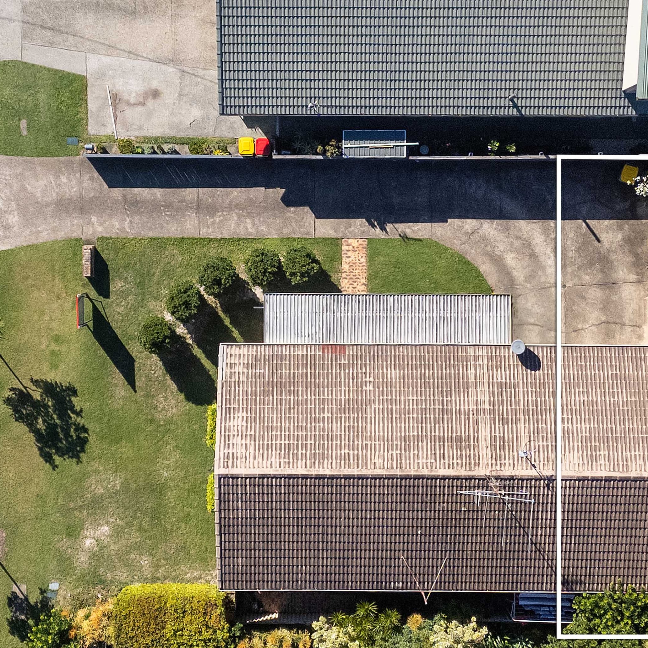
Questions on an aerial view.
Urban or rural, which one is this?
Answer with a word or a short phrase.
urban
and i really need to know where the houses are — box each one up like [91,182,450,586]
[212,342,648,597]
[213,0,648,120]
